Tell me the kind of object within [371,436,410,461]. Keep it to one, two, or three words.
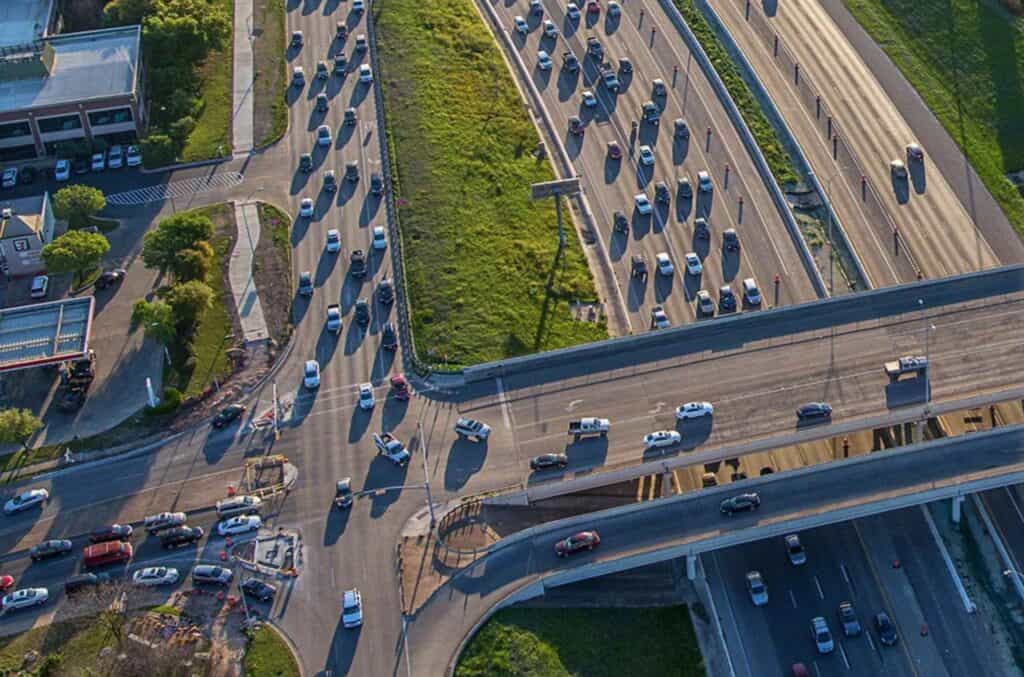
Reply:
truck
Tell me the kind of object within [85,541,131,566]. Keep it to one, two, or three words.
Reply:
vehicle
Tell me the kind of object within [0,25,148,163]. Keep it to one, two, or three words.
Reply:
building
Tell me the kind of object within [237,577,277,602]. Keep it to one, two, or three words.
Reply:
car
